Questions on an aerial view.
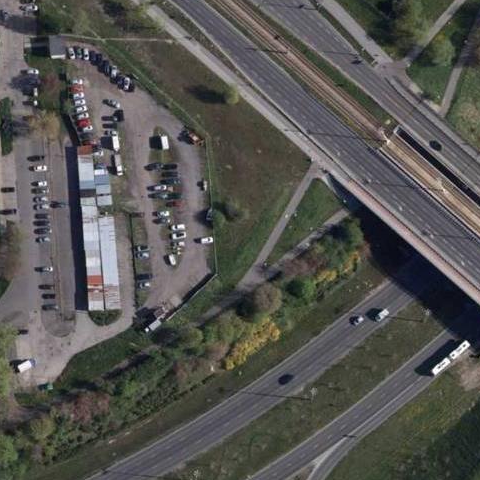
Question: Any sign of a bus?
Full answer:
Yes, the image includes a bus.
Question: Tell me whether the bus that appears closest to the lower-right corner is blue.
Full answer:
No, from above the bus that appears closest to the lower-right corner looks white.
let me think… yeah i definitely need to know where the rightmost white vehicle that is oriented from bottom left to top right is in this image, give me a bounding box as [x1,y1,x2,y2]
[429,339,472,378]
